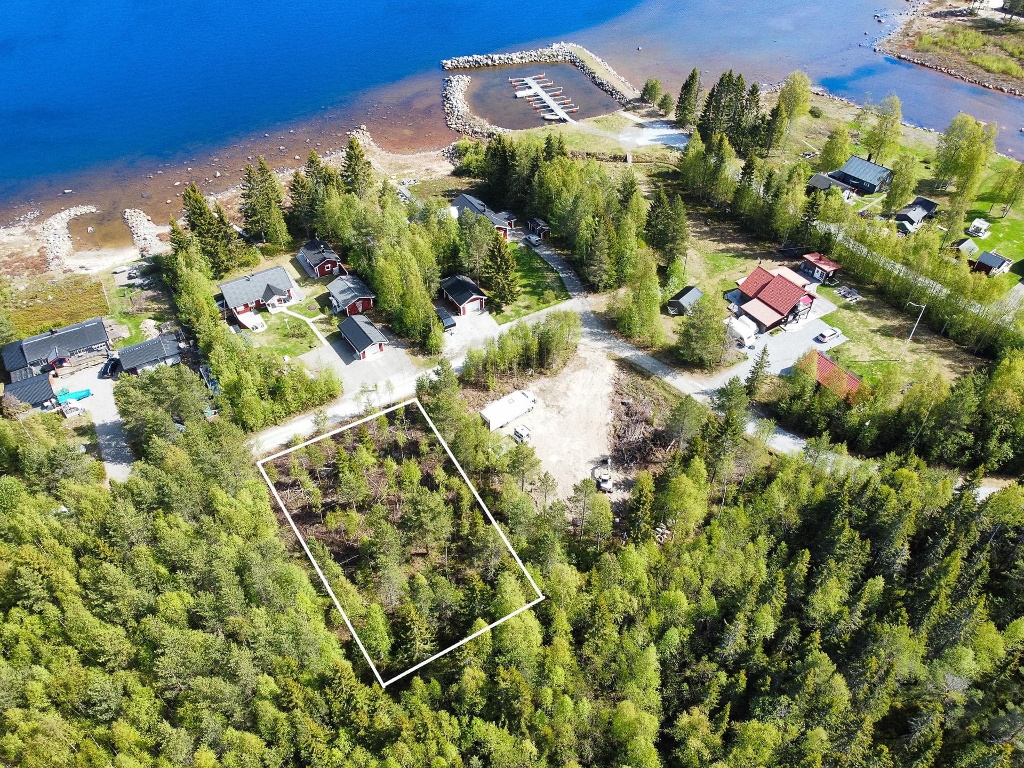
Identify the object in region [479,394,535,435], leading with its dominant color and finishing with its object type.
white truck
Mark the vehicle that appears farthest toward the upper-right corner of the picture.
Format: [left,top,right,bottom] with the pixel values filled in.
[817,326,845,344]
